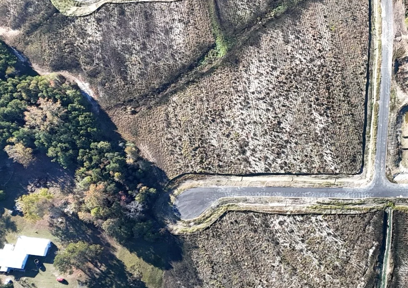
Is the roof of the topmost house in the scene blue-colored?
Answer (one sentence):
No, from above the roof of the topmost house looks white.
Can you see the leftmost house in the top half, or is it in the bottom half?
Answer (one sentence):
Seen from above, the leftmost house lies in the bottom half of the view.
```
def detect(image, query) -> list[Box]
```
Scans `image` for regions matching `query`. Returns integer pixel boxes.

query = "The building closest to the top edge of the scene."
[14,236,53,258]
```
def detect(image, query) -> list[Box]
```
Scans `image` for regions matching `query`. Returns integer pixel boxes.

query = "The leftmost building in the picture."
[0,244,32,275]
